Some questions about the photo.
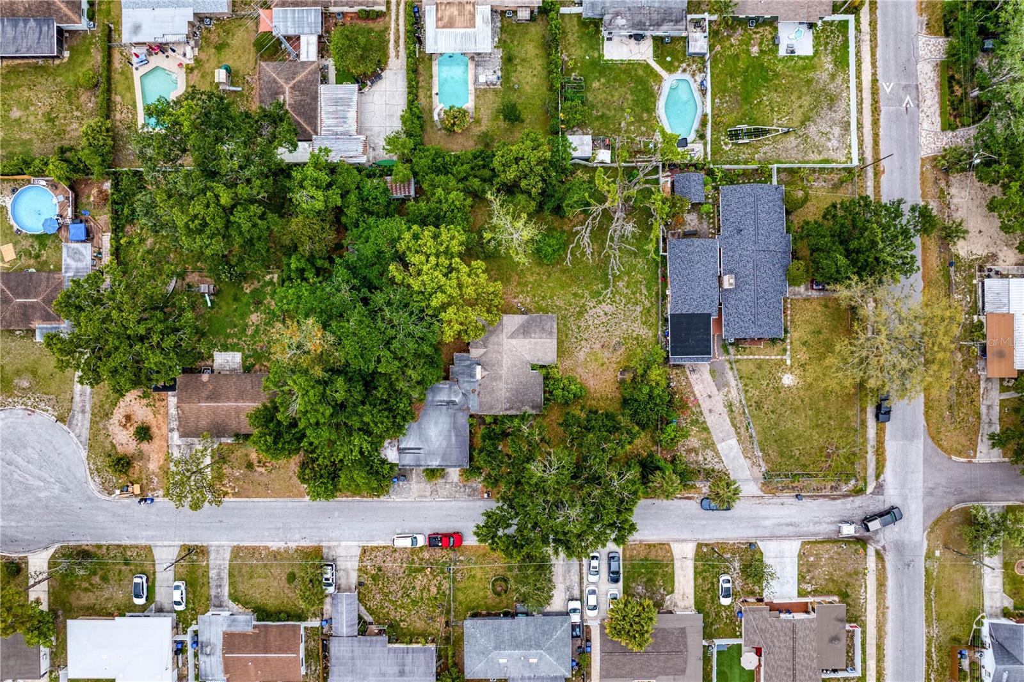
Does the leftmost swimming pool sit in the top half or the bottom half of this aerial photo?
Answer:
top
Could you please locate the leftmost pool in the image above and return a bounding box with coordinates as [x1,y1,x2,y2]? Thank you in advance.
[8,184,58,234]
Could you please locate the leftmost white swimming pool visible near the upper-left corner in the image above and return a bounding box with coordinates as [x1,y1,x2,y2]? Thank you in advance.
[132,45,193,132]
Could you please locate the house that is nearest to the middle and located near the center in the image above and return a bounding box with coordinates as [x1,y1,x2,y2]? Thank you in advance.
[450,304,556,413]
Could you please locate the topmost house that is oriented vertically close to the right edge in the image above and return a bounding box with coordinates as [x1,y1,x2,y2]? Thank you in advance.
[975,266,1024,378]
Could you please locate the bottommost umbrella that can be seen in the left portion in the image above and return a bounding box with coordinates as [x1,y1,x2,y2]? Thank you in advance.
[42,217,61,234]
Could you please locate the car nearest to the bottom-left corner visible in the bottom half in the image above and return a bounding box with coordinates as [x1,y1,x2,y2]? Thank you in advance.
[131,573,149,604]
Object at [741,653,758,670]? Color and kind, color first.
white umbrella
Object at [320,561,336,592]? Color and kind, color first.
white car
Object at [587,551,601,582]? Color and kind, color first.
white car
